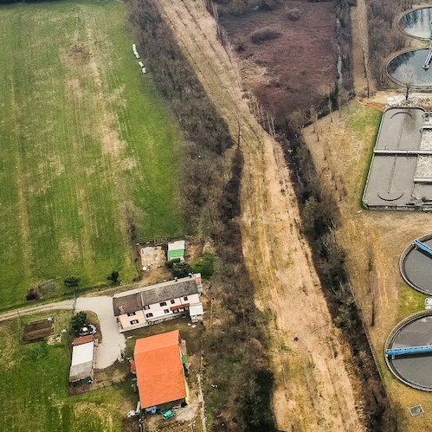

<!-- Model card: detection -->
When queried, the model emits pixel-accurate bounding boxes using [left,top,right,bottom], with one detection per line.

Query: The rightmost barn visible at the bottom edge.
[131,336,196,416]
